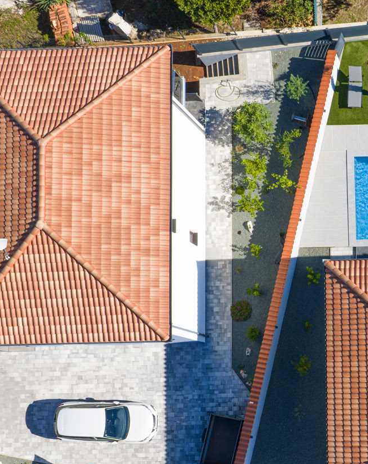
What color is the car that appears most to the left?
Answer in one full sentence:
In this view, the car that appears most to the left is white.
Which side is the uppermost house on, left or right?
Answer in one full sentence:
It is on the left.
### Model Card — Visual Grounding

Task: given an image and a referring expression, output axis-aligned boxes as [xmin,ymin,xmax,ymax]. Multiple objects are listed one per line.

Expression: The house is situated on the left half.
[0,41,208,347]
